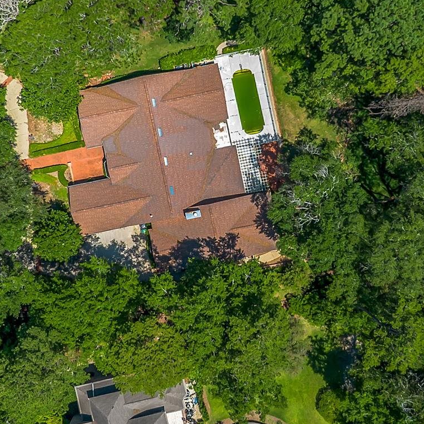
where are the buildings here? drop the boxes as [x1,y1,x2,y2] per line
[74,373,186,424]
[69,65,288,288]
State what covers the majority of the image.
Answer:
trees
